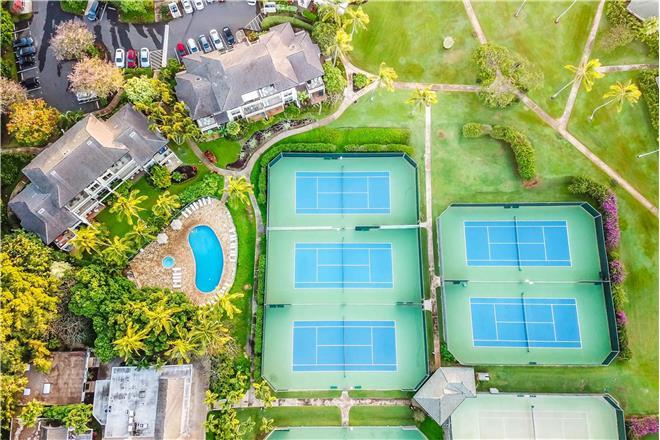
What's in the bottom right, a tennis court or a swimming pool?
tennis court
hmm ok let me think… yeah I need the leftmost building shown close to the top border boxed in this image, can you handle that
[173,21,326,137]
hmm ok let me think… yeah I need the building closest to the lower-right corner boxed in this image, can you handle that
[414,367,476,426]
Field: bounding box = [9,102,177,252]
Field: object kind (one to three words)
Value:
building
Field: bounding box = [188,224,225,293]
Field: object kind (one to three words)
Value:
swimming pool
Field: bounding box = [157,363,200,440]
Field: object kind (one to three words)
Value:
building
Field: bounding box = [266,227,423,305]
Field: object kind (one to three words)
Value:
tennis court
